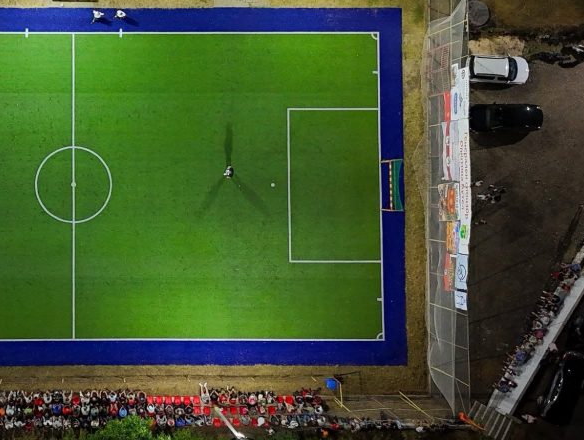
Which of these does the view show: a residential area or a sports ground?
sports ground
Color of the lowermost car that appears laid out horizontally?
black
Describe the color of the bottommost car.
black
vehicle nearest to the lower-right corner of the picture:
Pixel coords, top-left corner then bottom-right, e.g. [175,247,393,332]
[533,351,584,427]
